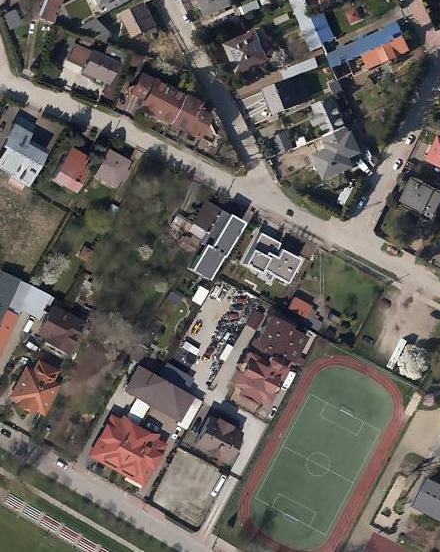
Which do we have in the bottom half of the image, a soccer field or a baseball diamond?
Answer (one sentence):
It is a soccer field that can be seen in the bottom half of the image.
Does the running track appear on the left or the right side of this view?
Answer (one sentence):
The running track is on the right side of the image.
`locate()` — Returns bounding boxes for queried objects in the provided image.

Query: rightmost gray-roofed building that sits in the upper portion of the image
[399,178,440,220]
